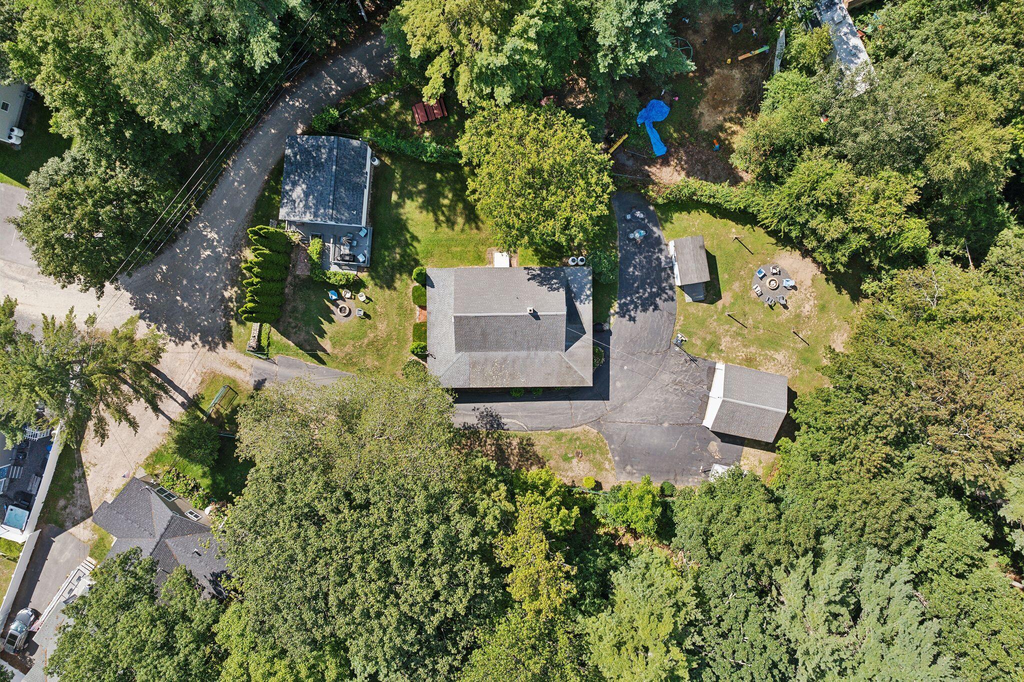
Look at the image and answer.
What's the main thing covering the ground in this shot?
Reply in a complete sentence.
The scene is dominated by trees.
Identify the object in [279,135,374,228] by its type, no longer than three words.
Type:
house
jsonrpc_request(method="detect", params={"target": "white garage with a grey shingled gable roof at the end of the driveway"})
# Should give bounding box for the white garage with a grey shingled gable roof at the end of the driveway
[704,364,787,443]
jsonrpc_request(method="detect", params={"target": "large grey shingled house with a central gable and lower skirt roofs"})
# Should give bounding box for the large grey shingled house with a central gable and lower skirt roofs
[427,252,593,388]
